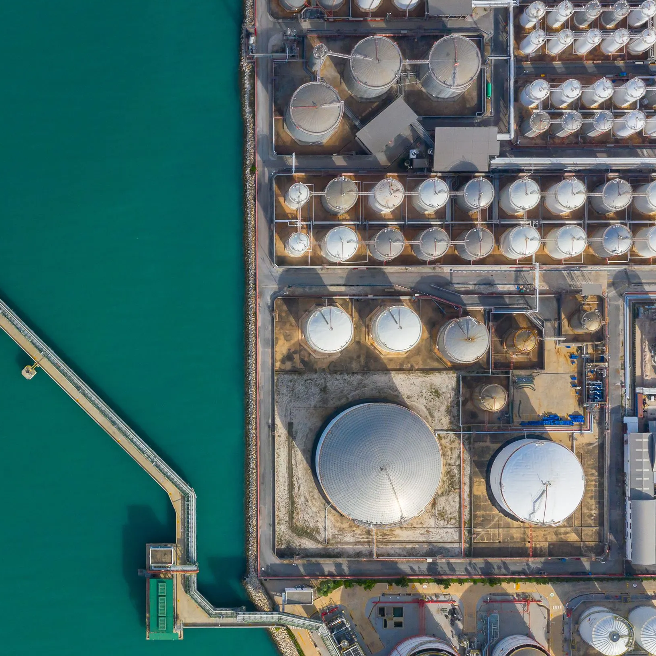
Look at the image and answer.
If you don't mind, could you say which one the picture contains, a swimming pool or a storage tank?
storage tank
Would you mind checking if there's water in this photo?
Yes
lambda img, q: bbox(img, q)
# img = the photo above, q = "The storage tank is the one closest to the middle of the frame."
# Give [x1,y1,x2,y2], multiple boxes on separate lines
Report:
[300,301,354,356]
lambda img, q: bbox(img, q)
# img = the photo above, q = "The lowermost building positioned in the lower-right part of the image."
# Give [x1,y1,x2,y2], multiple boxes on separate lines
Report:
[625,498,656,565]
